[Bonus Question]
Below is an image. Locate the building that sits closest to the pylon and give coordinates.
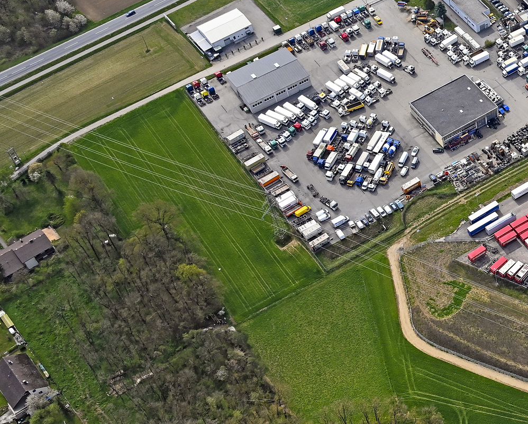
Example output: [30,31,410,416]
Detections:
[227,47,310,111]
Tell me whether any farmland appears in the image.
Yes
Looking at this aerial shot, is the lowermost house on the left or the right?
left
